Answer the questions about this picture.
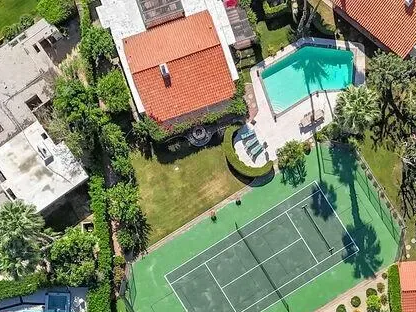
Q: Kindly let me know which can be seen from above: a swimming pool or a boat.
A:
swimming pool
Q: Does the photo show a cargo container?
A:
No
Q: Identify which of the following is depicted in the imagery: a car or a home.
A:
home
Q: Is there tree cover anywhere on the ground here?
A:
Yes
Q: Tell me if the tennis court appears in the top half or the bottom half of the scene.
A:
bottom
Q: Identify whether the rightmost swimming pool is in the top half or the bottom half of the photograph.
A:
top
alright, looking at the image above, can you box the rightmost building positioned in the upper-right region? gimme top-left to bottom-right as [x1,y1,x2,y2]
[333,0,416,62]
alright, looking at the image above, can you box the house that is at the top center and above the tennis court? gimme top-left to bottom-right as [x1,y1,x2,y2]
[95,0,238,126]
